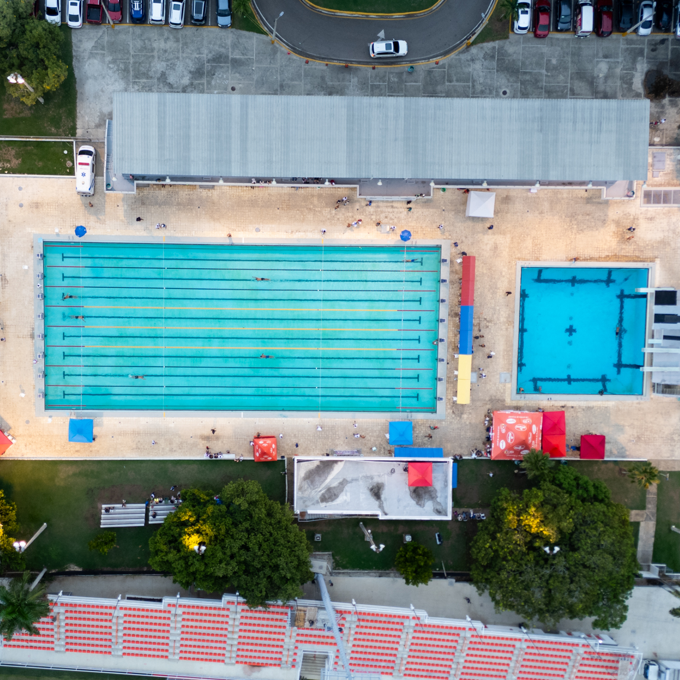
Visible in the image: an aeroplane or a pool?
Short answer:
pool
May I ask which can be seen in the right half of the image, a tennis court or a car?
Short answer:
car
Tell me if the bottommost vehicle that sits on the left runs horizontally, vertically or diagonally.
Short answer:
vertically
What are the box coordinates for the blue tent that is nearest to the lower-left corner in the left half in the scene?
[69,417,96,442]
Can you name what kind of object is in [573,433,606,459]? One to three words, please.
tent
